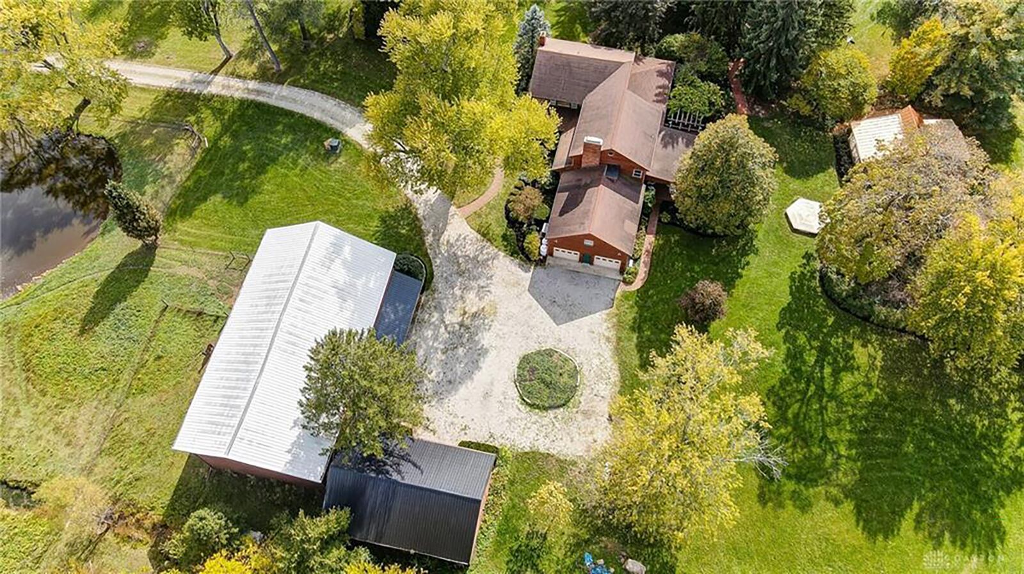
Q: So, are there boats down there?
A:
No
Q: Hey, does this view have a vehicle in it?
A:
No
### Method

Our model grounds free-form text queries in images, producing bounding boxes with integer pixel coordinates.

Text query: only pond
[0,130,129,312]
